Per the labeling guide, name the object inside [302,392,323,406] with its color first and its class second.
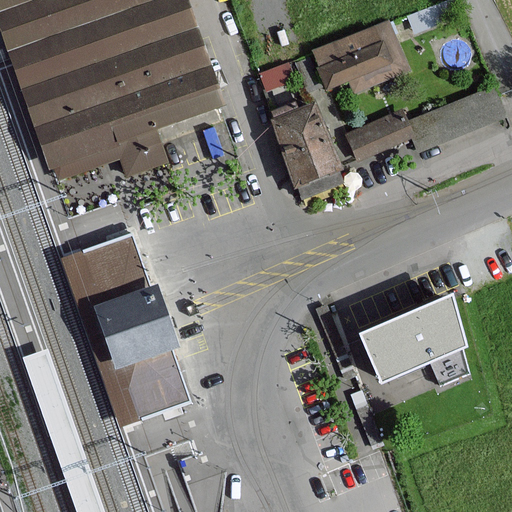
red vehicle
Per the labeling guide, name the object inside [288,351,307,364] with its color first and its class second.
red vehicle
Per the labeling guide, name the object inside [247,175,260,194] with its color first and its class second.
white vehicle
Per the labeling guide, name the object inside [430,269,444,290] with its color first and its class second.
black vehicle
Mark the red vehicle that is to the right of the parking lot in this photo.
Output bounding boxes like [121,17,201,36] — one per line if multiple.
[487,258,501,278]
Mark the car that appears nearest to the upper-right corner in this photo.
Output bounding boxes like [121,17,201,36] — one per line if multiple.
[420,146,441,160]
